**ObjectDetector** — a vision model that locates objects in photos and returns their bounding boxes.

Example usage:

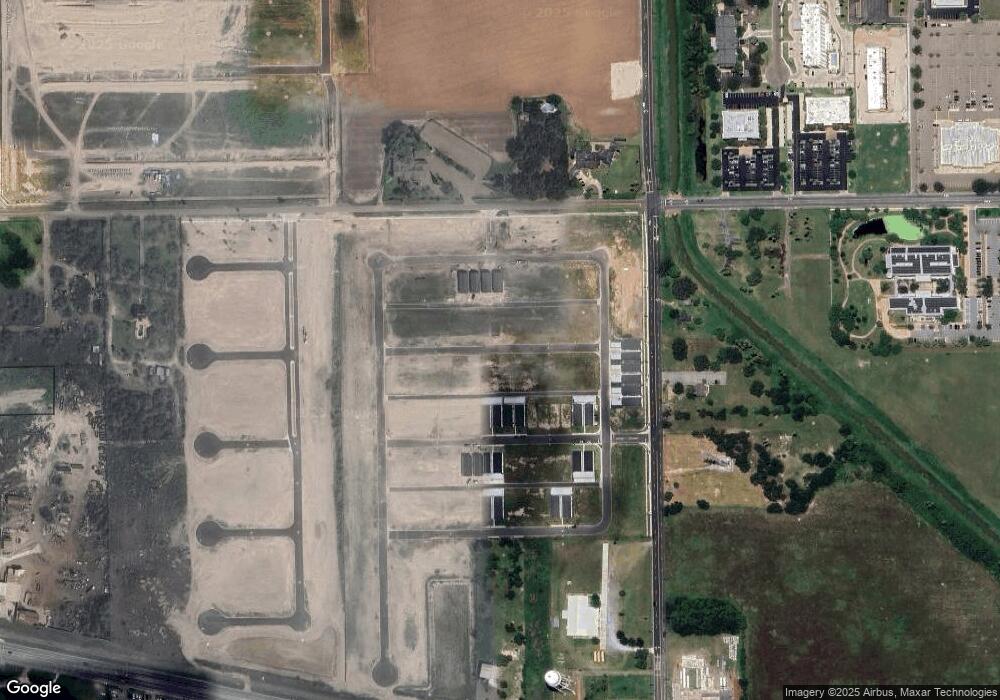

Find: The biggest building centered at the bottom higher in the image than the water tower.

[562,595,601,637]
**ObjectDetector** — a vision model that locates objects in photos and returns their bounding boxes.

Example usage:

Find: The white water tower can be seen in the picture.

[544,670,572,694]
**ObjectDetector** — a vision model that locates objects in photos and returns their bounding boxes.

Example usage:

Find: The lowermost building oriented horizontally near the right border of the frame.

[889,291,960,315]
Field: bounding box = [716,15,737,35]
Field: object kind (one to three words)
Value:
house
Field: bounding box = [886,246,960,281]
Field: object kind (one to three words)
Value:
building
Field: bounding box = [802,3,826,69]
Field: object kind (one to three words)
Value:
building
